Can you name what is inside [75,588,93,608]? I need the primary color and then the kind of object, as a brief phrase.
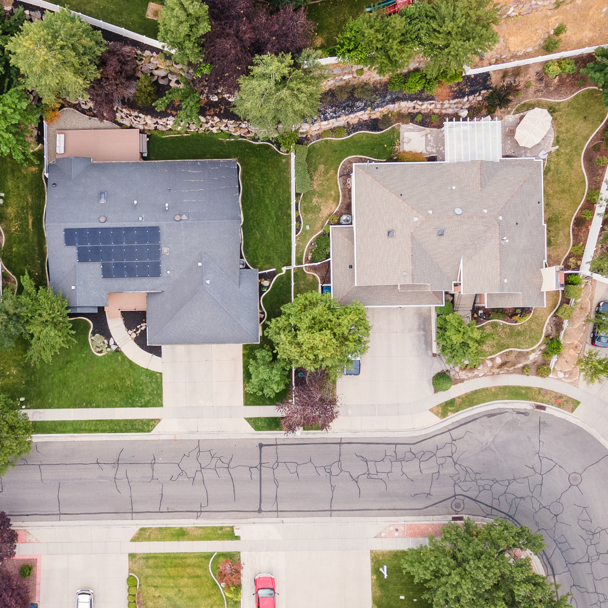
white car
